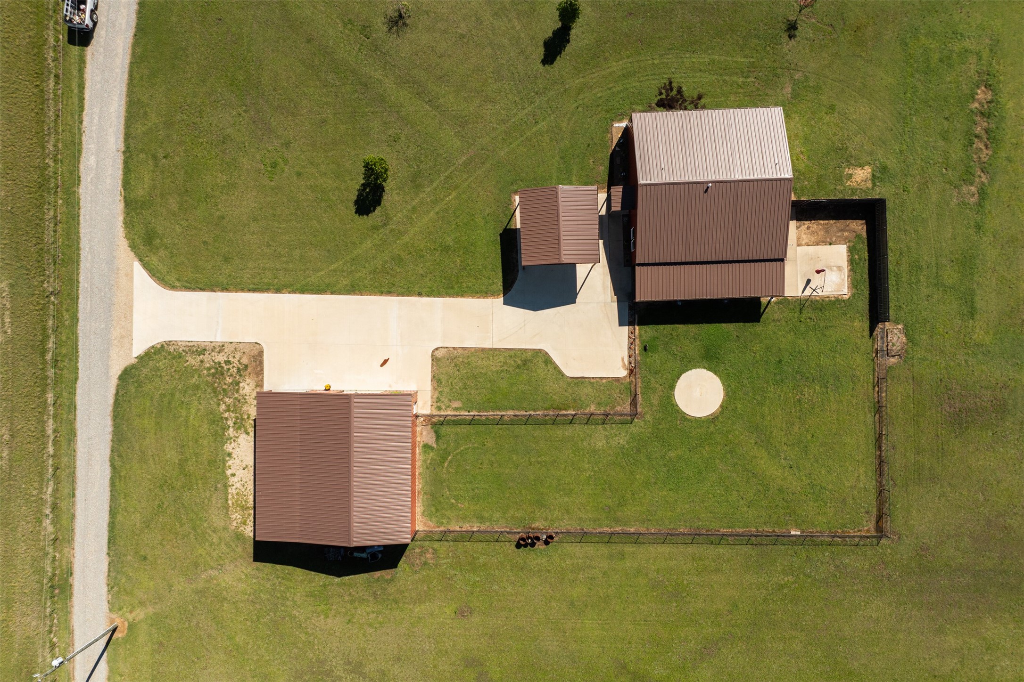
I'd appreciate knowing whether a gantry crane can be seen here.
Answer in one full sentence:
No, this view has no gantry crane in it.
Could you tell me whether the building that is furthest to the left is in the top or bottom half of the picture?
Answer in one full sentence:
You can find the building that is furthest to the left in the bottom half.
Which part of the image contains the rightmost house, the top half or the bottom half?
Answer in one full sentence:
The rightmost house sits in the top half of the picture.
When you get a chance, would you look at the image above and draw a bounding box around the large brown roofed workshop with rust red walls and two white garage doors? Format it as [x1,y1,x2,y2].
[254,389,418,547]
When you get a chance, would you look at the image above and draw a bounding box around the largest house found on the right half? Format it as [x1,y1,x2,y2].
[608,106,793,303]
